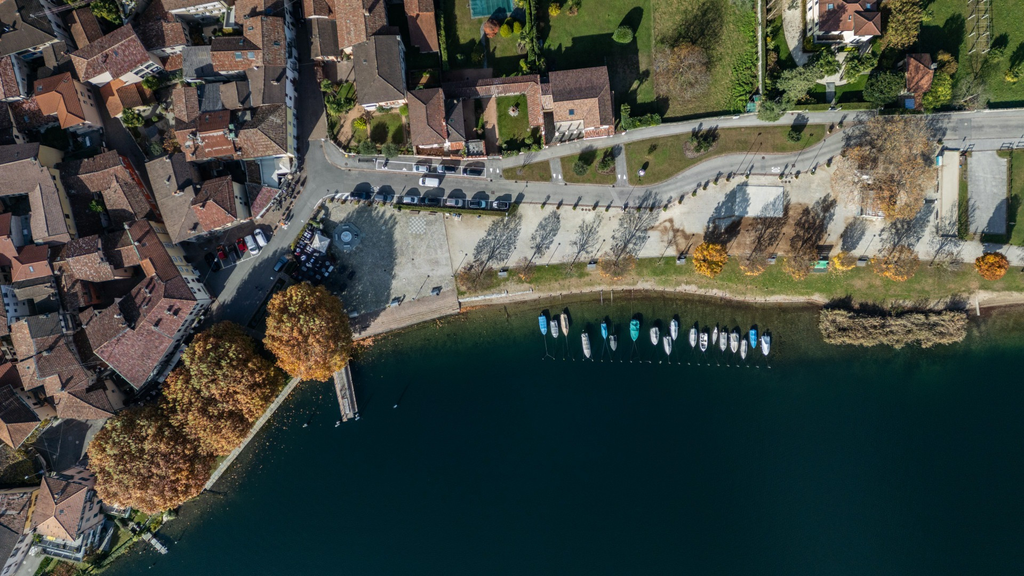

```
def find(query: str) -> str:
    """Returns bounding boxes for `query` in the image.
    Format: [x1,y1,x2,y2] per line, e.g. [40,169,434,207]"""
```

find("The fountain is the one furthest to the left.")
[334,223,360,249]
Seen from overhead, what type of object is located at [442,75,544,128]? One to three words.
house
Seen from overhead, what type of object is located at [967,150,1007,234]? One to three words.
sports court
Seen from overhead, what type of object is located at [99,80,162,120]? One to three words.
house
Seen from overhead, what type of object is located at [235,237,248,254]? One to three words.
vehicle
